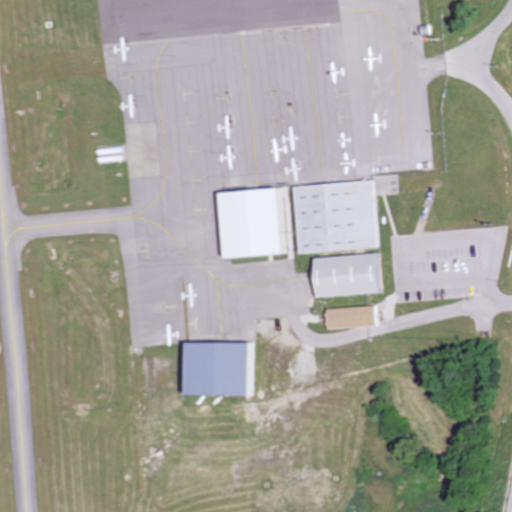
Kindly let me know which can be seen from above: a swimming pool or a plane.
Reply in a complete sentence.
Looking from above, you can make out a plane.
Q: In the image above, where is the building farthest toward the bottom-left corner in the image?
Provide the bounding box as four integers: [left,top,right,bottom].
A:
[182,342,254,396]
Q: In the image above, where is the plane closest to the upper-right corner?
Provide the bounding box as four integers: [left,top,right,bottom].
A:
[364,48,382,71]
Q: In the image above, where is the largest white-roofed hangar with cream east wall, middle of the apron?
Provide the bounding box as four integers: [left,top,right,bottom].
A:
[220,188,288,258]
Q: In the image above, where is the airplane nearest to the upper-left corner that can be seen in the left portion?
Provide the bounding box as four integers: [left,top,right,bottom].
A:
[112,37,131,62]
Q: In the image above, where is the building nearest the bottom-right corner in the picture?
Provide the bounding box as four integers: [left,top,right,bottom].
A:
[324,306,378,329]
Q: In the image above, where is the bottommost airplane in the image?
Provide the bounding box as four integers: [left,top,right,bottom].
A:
[164,322,182,347]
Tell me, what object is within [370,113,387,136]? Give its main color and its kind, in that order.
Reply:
white airplane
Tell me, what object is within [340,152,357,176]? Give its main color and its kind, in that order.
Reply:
white airplane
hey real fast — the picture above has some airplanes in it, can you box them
[216,115,235,140]
[338,132,351,148]
[270,138,288,163]
[340,152,357,176]
[364,48,382,71]
[280,126,300,151]
[178,283,198,308]
[326,61,344,84]
[217,145,237,170]
[164,322,182,347]
[119,94,139,118]
[282,157,302,182]
[370,113,387,136]
[112,37,131,62]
